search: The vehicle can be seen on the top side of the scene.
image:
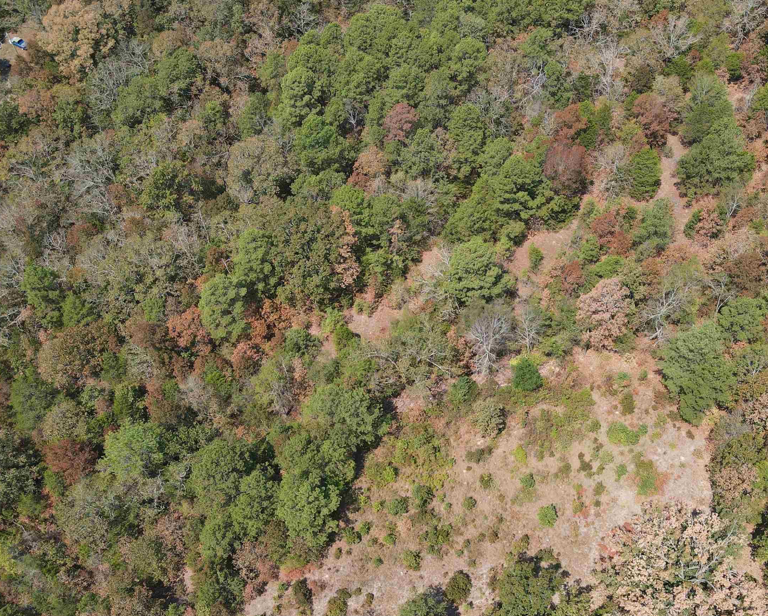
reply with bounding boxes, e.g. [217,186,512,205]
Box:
[5,39,31,52]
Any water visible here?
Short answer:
No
